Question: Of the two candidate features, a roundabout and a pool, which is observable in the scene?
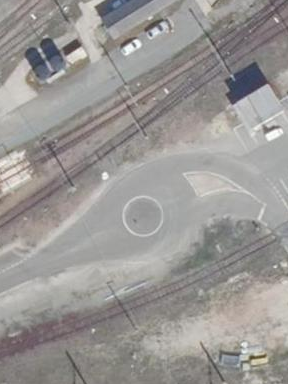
roundabout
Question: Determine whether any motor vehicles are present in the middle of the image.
No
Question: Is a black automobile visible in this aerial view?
No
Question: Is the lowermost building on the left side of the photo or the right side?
right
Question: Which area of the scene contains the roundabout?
center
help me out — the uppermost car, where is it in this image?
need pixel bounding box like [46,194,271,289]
[146,20,171,39]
